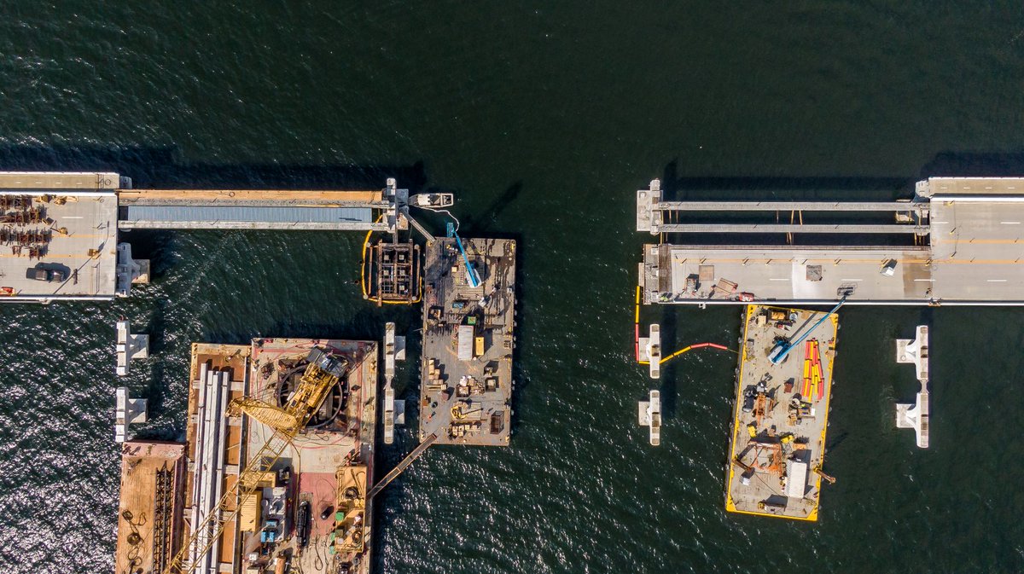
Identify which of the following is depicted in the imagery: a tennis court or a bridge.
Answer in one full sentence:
Visible in the photo is a bridge.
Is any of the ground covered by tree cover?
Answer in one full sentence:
No, there's no tree cover in this view.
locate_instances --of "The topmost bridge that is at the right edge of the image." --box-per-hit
[658,178,1024,306]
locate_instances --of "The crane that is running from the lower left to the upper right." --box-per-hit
[162,343,355,574]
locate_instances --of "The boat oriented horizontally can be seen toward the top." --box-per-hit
[410,192,454,208]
